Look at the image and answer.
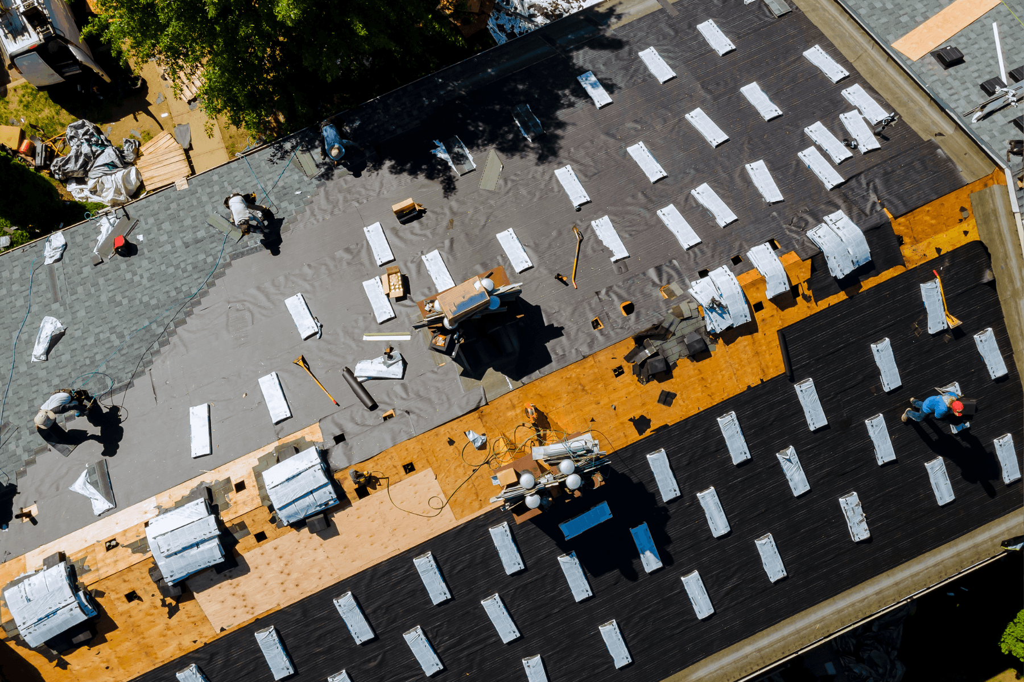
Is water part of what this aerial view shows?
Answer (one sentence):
No, the picture contains no water.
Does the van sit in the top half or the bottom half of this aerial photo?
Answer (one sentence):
The van sits in the top half of the picture.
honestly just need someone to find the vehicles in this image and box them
[0,0,112,102]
